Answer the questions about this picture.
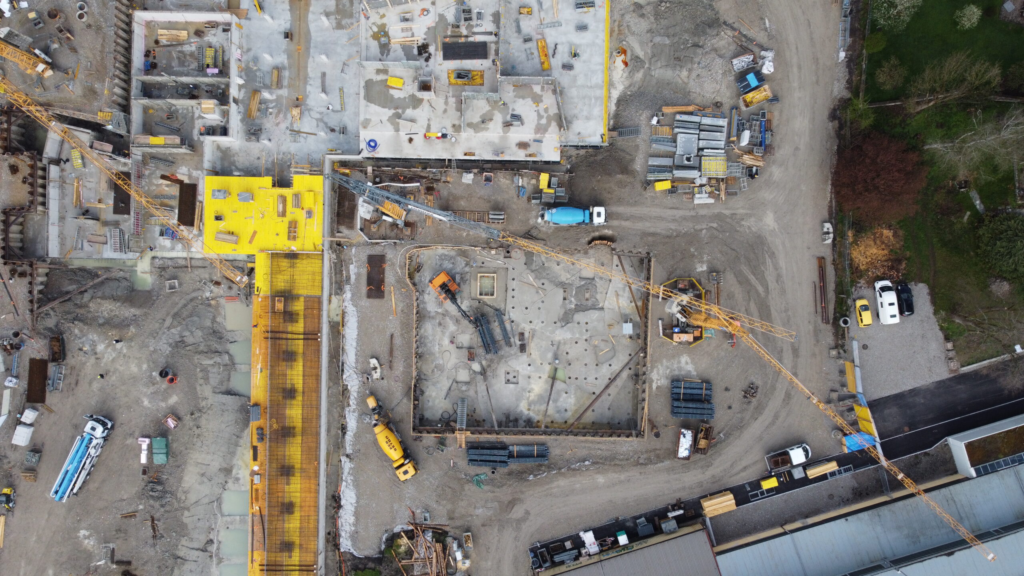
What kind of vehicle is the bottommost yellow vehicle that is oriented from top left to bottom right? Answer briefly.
truck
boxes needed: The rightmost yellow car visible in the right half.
[854,299,872,328]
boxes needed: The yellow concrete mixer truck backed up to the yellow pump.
[370,418,422,489]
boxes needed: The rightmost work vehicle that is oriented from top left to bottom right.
[427,269,485,333]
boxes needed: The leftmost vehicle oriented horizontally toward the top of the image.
[535,204,608,227]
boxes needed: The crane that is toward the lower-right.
[658,280,999,564]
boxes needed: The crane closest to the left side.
[0,29,252,290]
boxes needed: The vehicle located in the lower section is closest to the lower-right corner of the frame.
[764,446,813,473]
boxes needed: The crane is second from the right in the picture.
[315,169,800,342]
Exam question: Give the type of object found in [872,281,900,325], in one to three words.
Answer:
van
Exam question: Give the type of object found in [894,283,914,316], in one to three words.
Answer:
car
